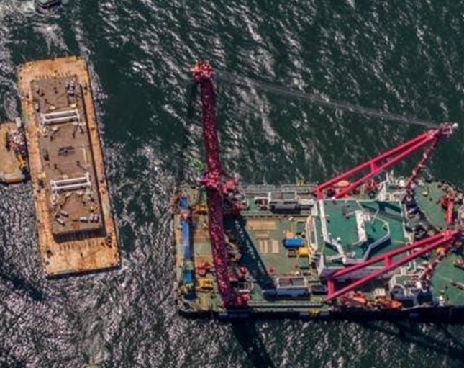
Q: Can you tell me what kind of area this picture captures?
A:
port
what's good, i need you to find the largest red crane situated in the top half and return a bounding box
[165,56,460,222]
